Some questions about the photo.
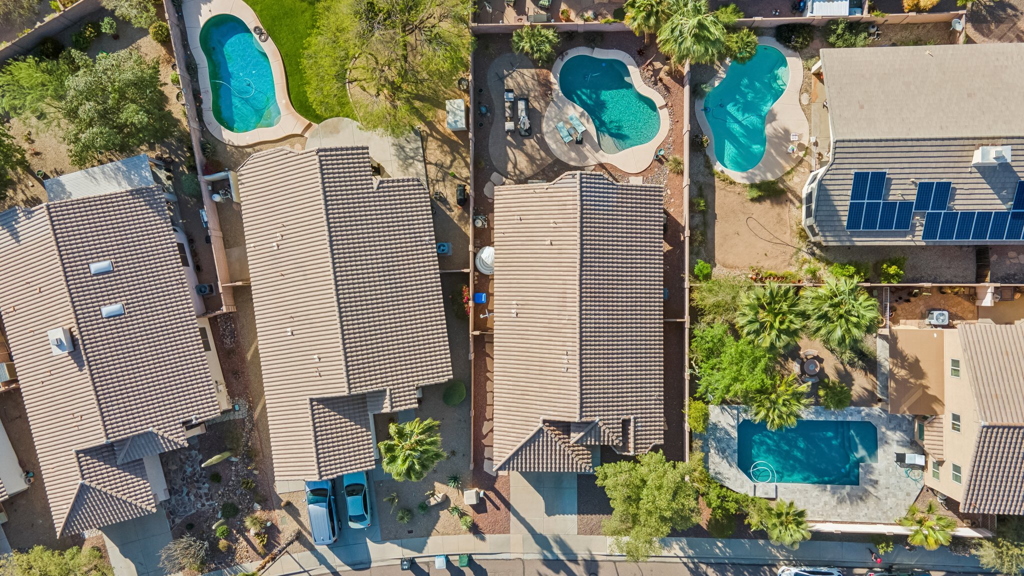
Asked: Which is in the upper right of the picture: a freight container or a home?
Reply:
home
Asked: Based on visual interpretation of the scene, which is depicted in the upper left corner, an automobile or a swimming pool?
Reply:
swimming pool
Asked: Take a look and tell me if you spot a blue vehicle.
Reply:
Yes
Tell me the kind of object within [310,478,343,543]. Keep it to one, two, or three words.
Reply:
vehicle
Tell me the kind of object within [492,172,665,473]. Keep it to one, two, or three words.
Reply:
house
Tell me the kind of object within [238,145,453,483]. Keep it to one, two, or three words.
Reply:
house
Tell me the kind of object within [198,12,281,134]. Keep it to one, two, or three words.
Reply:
swimming pool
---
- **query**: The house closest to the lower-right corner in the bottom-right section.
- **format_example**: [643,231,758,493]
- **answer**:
[885,324,1024,515]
